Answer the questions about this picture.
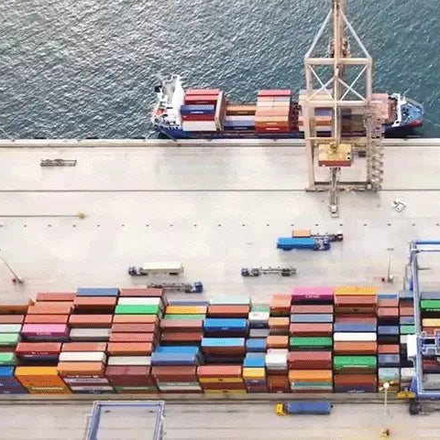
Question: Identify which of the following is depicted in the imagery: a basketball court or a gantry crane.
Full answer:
The one in the frame is a gantry crane.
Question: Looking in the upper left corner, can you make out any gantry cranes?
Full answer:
No, there's no gantry crane to be seen in the upper left corner.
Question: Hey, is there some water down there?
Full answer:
Yes, there is water in the image.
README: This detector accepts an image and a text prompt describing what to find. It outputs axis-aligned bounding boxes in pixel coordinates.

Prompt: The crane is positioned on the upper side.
[292,0,387,218]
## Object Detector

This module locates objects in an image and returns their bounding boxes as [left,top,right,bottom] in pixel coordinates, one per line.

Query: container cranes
[77,393,165,440]
[292,0,387,218]
[404,241,440,400]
